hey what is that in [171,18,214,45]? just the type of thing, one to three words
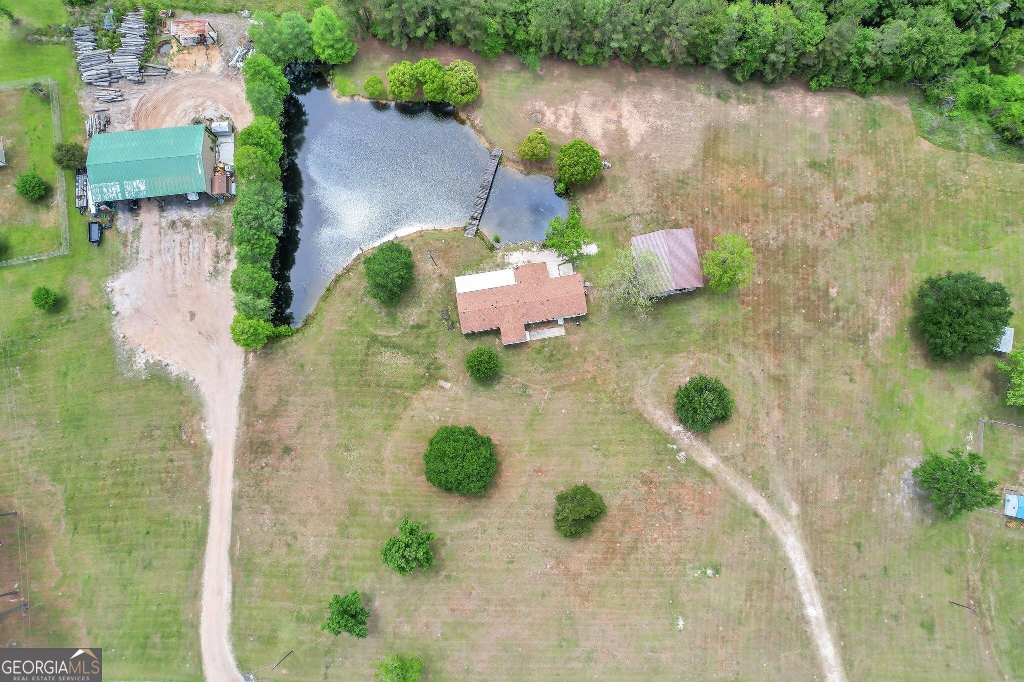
shed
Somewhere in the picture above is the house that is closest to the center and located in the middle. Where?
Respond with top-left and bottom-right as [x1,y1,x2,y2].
[455,262,587,345]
